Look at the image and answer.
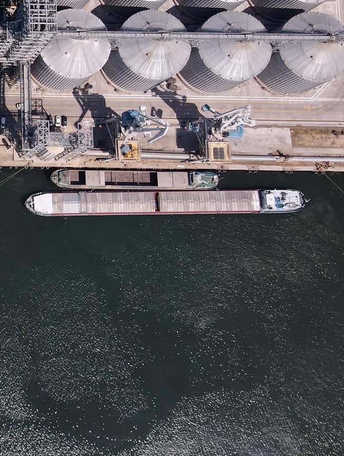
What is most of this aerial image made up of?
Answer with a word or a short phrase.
water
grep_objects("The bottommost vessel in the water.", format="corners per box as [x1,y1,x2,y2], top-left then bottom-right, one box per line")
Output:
[24,188,309,217]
